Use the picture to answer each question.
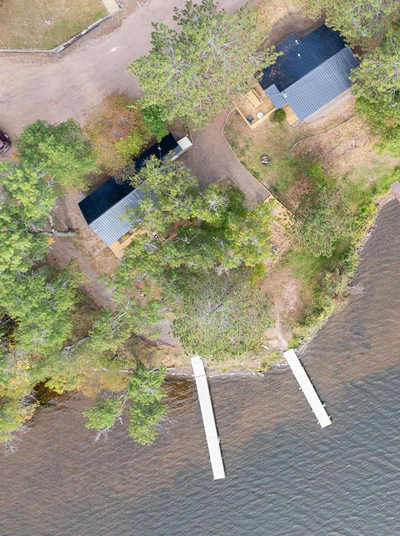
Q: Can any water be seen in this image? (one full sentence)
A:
Yes, some water is visible.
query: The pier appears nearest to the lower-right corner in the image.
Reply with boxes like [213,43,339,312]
[284,349,331,431]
